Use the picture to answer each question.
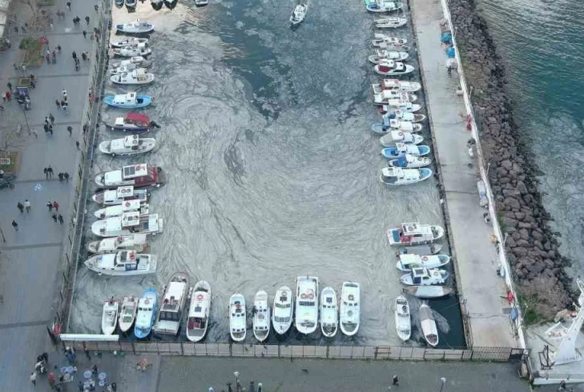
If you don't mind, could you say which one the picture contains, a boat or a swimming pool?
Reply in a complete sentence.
Looking from above, you can make out a boat.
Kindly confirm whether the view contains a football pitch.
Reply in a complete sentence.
No, the photo shows no football pitch.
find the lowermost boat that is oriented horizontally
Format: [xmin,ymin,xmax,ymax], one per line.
[403,283,453,302]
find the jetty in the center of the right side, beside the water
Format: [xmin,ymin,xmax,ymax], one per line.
[405,0,521,356]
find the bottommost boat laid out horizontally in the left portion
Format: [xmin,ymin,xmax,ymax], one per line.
[82,248,159,281]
